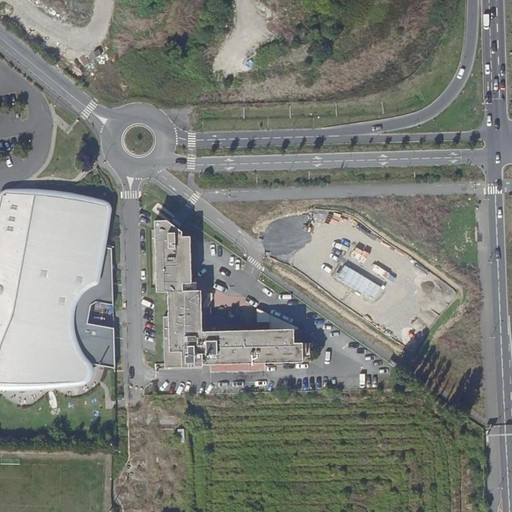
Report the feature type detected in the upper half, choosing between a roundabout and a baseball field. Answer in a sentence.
The one visible in the upper half is a roundabout.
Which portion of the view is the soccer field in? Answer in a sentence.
The soccer field is in the bottom left part of the image.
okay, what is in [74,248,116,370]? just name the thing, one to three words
building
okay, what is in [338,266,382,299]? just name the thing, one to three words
shed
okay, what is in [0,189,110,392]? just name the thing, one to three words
building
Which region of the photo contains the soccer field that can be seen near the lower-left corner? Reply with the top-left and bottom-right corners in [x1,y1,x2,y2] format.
[0,460,104,512]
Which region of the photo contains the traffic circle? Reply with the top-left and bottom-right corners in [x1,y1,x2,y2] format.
[84,102,188,190]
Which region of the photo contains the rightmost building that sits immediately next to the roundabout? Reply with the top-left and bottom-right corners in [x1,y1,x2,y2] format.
[153,219,304,370]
